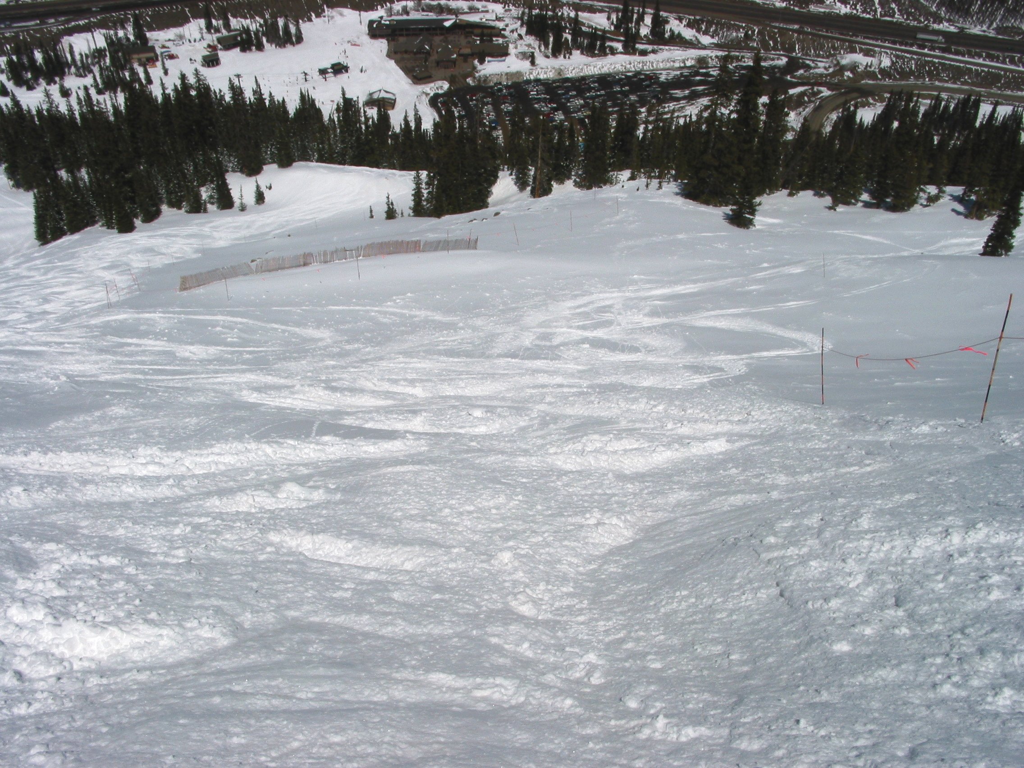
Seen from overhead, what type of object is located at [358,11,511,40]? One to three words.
building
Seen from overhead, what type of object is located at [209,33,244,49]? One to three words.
barn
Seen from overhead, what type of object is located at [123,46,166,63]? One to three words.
building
